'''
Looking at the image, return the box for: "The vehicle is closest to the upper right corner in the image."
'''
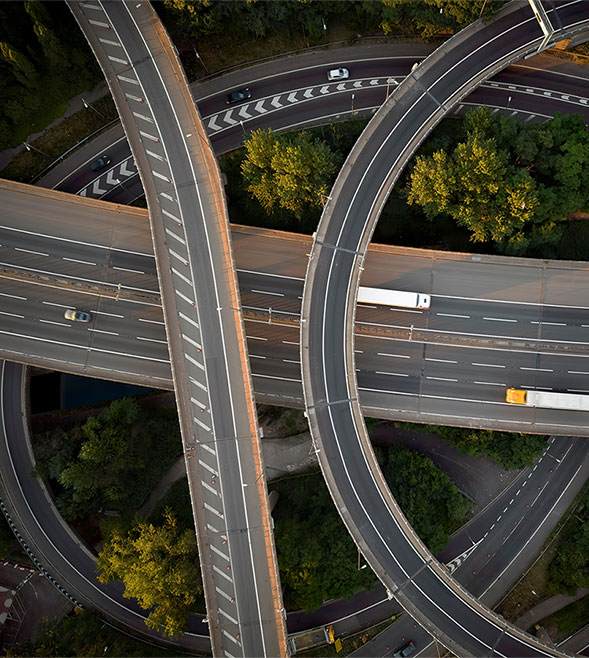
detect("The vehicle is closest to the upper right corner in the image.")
[327,69,349,82]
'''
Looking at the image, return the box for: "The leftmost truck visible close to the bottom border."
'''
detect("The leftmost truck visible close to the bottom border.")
[293,624,336,650]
